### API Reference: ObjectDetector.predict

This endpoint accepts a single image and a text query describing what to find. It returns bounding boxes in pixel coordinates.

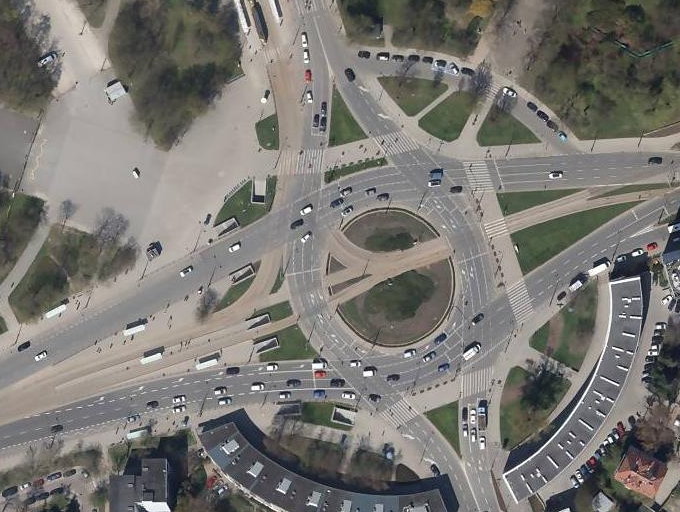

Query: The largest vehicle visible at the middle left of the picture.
[148,242,161,258]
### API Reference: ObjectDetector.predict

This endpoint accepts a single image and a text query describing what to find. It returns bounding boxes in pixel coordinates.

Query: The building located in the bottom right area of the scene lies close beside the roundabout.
[504,277,643,504]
